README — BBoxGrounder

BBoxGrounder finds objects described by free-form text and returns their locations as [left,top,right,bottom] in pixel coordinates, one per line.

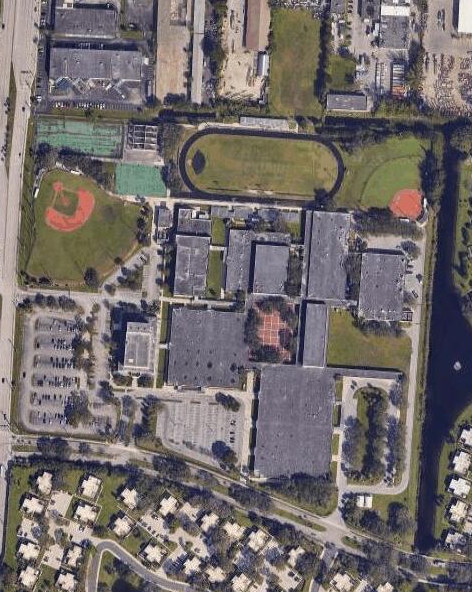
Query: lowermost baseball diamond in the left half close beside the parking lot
[26,165,142,282]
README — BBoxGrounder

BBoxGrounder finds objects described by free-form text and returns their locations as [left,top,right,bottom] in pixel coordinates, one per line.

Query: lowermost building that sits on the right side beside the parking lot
[254,367,335,478]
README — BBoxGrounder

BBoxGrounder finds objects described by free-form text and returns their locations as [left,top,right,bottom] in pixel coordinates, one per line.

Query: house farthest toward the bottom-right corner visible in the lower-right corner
[445,529,468,550]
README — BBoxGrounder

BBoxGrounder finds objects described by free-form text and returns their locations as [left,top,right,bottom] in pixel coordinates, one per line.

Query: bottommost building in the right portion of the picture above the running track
[327,95,367,111]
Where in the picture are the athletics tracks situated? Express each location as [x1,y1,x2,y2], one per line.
[179,128,345,202]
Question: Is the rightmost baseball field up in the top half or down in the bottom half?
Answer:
top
